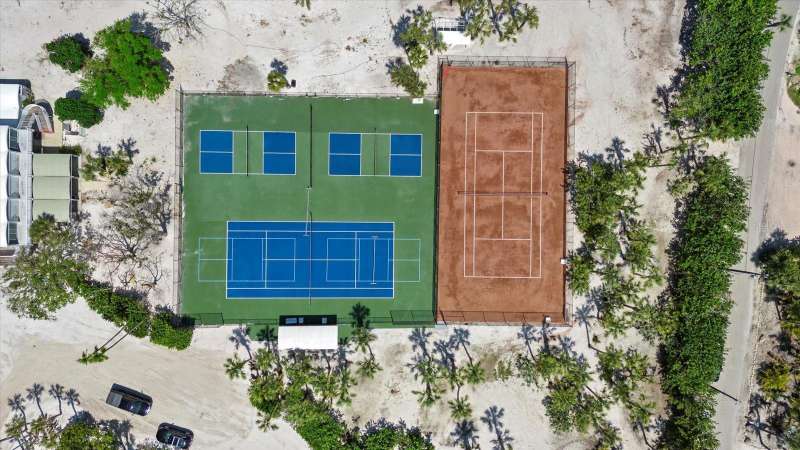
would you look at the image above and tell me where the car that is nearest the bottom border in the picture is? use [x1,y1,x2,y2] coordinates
[155,424,192,446]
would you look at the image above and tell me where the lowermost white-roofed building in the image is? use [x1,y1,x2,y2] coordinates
[278,323,339,350]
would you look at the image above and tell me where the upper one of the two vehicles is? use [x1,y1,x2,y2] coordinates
[102,388,148,414]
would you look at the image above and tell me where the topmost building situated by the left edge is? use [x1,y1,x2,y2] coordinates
[0,84,43,122]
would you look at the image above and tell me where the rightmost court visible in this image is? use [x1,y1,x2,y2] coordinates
[439,66,567,323]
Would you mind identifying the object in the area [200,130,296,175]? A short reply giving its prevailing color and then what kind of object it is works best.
blue sports court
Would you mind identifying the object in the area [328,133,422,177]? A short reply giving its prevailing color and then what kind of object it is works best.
blue sports court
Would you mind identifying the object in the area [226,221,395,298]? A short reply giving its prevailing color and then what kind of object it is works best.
blue tennis court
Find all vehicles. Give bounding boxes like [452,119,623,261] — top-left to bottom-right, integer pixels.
[102,388,148,414]
[155,424,192,446]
